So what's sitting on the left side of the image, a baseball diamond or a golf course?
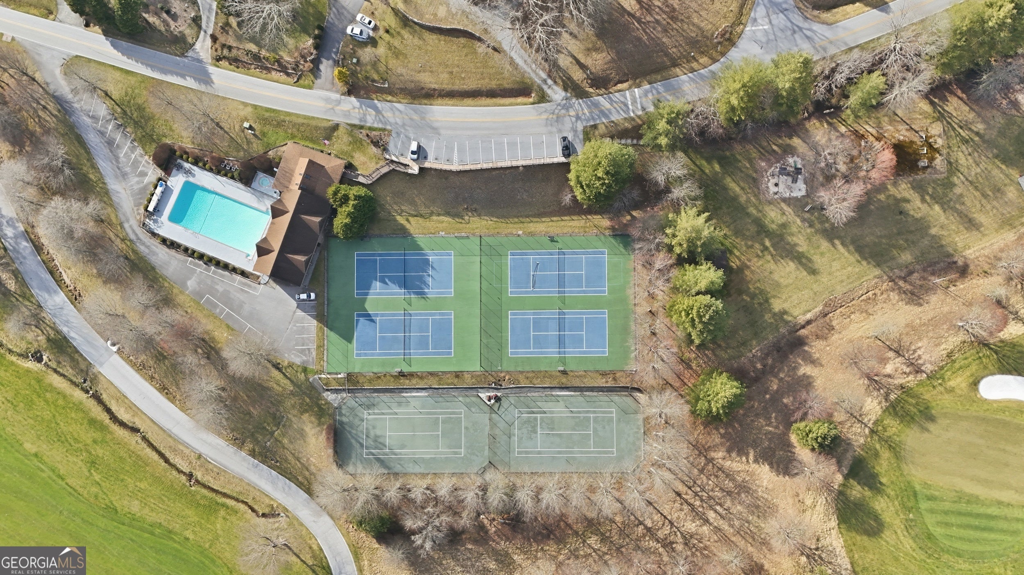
golf course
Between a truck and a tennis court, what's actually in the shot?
tennis court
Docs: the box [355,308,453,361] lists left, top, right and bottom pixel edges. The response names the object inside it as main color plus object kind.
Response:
blue tennis court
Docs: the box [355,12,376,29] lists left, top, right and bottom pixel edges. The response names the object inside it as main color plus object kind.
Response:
white car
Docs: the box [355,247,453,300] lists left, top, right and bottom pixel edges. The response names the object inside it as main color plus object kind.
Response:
blue tennis court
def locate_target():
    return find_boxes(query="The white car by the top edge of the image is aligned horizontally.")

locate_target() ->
[346,27,369,39]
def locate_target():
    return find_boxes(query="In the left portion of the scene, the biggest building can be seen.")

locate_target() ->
[254,142,346,285]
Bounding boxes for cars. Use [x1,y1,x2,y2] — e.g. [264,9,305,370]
[355,12,376,29]
[560,135,570,157]
[295,291,316,300]
[409,139,420,161]
[346,27,369,39]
